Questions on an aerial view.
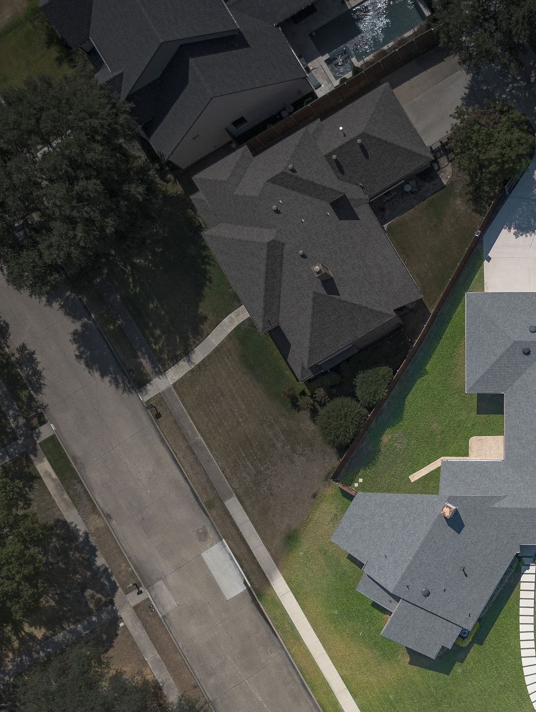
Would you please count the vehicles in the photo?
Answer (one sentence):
I count no vehicles.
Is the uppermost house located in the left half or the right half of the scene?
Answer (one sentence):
The uppermost house sits on the left side.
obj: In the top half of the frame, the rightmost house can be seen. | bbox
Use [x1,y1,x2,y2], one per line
[191,82,433,383]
